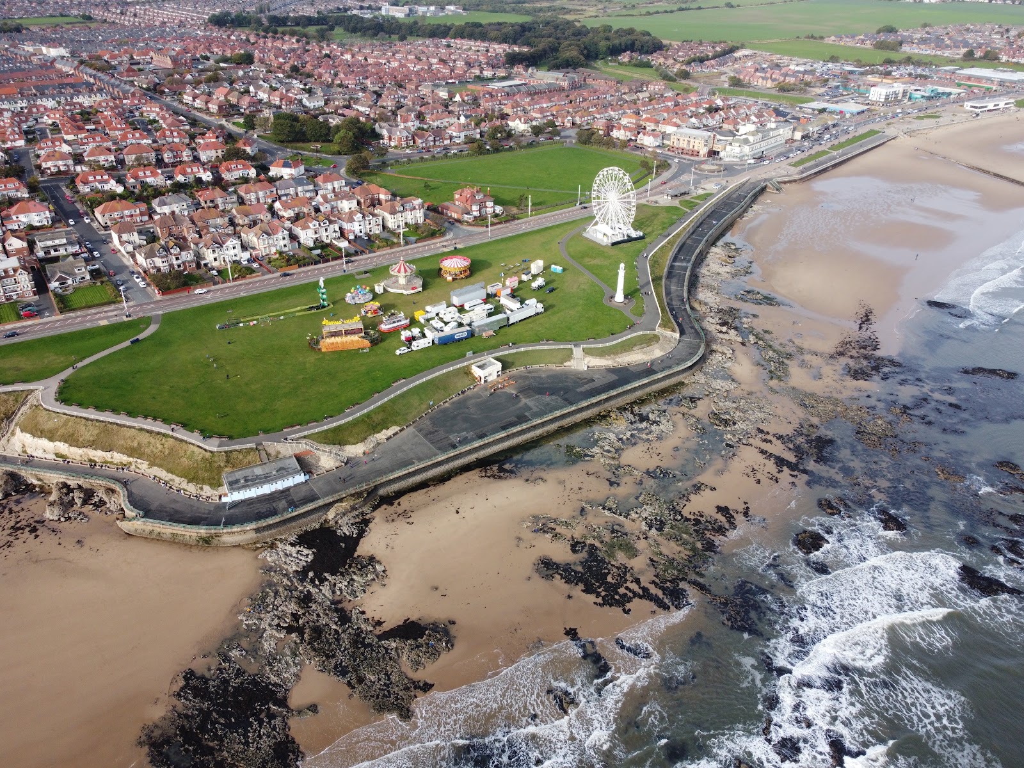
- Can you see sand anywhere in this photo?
Yes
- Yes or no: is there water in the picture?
Yes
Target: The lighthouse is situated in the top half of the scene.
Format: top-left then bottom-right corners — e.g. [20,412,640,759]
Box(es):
[606,264,633,306]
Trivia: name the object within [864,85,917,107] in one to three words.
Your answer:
building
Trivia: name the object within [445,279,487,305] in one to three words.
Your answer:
trailer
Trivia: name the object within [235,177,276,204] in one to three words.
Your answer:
house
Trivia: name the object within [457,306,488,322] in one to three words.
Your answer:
camper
